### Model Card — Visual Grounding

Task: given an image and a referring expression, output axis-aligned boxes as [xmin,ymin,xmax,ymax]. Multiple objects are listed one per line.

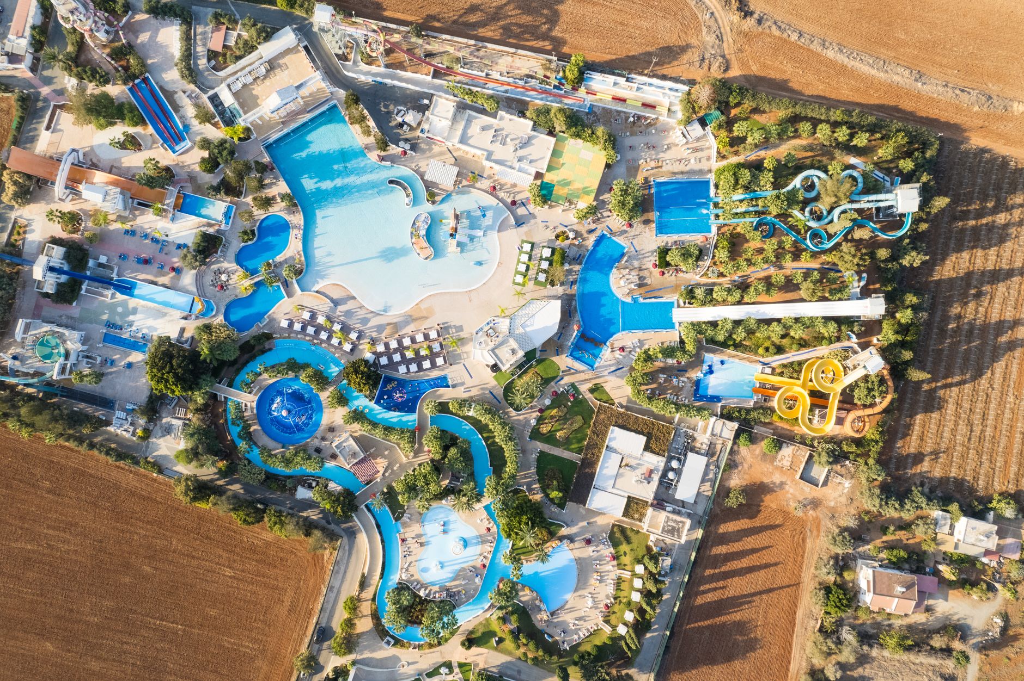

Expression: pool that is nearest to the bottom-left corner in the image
[100,331,152,355]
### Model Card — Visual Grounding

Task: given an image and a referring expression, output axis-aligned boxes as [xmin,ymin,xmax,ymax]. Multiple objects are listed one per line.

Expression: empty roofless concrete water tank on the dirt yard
[793,450,828,489]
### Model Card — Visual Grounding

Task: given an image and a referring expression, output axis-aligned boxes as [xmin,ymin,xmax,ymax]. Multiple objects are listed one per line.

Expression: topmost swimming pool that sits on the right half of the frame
[650,175,715,240]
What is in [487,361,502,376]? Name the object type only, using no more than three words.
umbrella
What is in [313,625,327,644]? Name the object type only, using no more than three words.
car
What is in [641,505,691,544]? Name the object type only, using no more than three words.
building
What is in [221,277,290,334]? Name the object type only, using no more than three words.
swimming pool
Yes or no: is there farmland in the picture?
Yes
